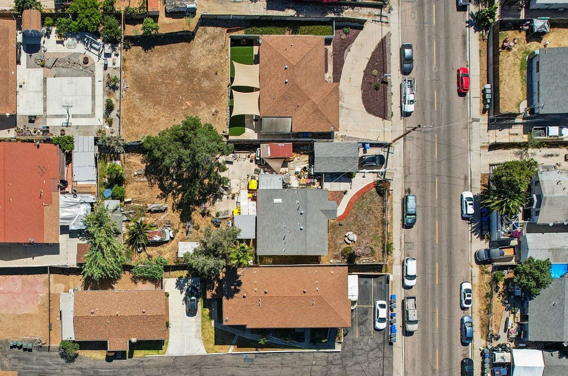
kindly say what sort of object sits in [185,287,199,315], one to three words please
vehicle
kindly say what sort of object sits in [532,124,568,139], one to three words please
vehicle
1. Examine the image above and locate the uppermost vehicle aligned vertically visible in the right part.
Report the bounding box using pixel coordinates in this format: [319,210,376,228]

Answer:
[400,42,414,75]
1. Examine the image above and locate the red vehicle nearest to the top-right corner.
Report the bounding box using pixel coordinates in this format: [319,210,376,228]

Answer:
[456,68,471,96]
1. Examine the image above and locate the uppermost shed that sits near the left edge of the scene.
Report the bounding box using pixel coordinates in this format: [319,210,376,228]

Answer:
[22,10,43,36]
